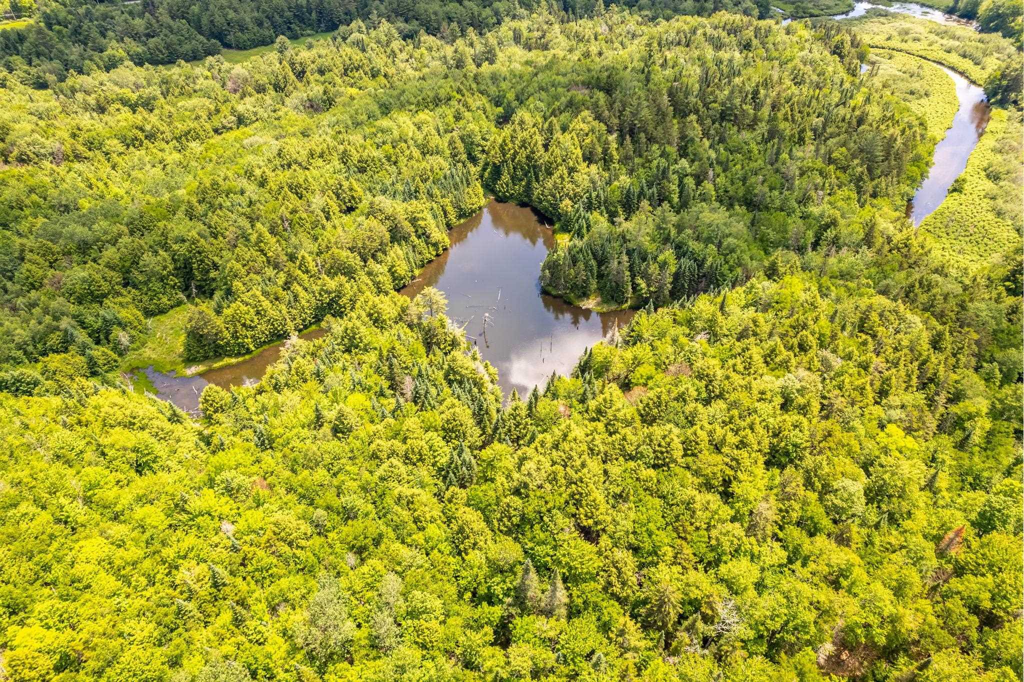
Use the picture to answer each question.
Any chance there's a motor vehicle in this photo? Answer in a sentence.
No, no motor vehicle is visible in the scene.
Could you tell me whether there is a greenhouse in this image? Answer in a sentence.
No, there isn't any greenhouse down there.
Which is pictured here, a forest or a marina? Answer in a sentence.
The picture captures a forest.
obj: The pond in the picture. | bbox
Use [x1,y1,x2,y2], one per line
[133,200,660,433]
